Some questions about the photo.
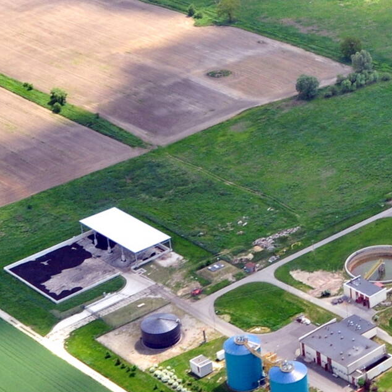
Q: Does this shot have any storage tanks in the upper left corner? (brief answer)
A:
No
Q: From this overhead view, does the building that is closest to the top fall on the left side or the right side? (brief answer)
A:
right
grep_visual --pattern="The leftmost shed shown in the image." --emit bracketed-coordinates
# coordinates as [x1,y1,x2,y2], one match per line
[189,355,212,377]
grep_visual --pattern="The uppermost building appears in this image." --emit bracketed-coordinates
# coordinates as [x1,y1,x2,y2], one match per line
[343,274,389,308]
